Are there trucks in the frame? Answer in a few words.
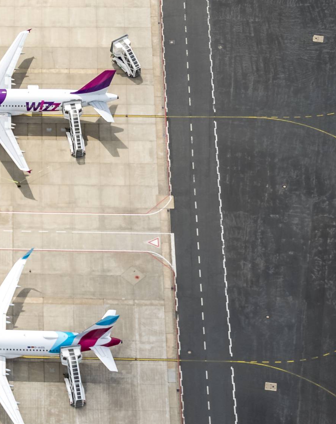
Yes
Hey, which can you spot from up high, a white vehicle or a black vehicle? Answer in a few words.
white vehicle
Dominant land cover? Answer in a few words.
paved ground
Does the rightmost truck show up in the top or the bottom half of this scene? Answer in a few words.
top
